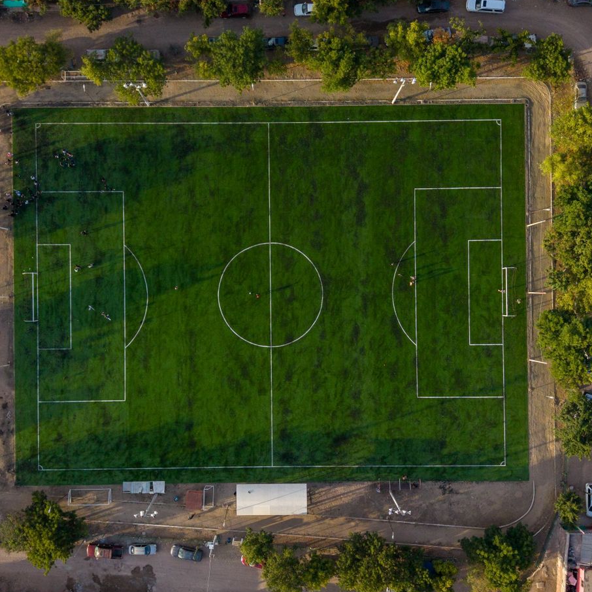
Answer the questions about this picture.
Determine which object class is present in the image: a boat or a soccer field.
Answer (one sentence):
Visible in the photo is a soccer field.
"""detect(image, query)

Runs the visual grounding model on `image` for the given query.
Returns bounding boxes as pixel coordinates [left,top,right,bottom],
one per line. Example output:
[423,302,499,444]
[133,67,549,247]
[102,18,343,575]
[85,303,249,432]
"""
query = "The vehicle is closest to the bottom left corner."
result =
[87,543,124,558]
